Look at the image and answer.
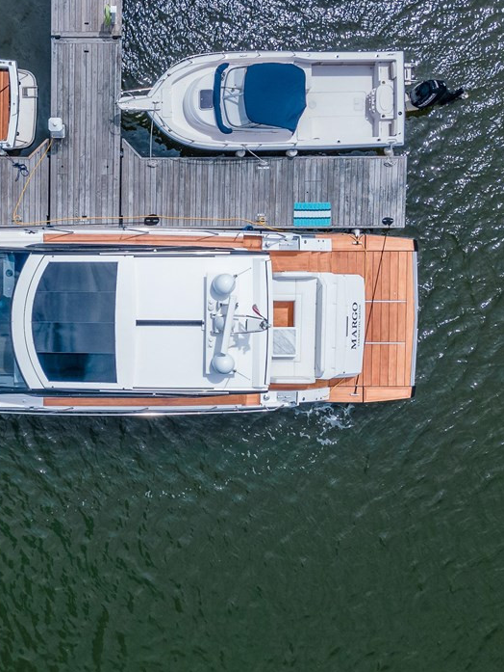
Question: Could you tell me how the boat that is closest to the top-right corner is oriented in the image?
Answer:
horizontally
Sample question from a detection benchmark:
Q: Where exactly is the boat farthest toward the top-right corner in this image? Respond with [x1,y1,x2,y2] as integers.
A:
[117,49,469,149]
